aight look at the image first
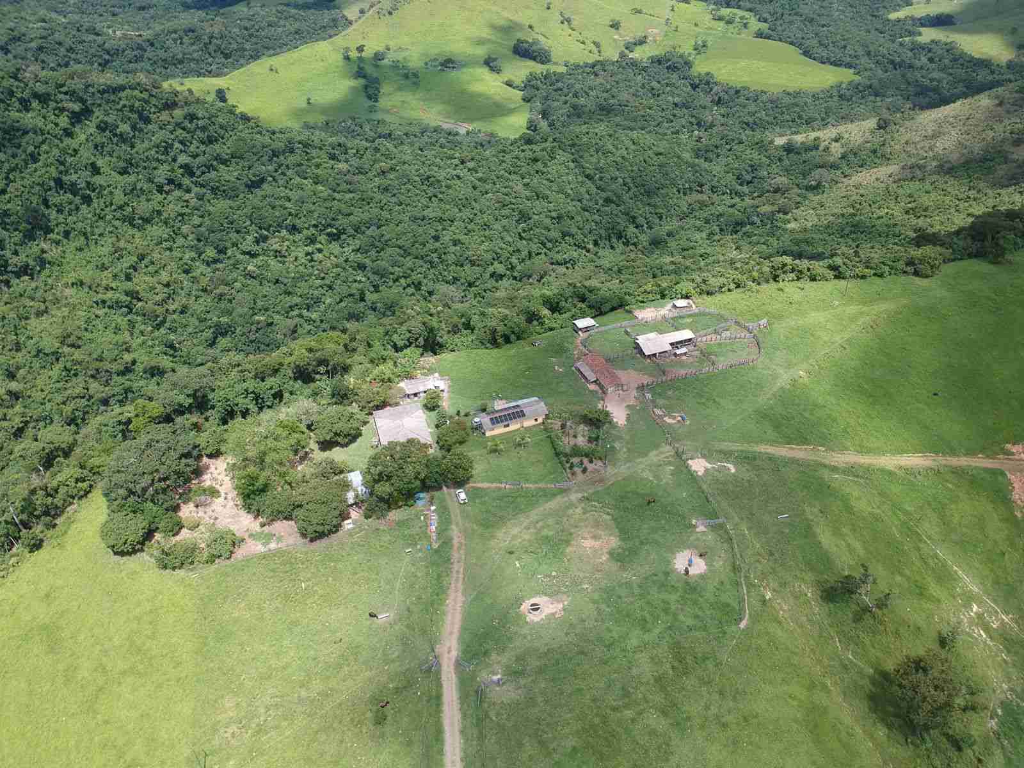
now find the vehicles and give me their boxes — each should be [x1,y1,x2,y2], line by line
[456,490,468,505]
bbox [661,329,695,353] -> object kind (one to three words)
barn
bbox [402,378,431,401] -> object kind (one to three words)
shed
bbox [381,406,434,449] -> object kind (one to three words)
house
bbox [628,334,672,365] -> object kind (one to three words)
barn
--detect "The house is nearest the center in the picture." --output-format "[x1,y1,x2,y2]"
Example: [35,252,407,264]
[475,399,548,439]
